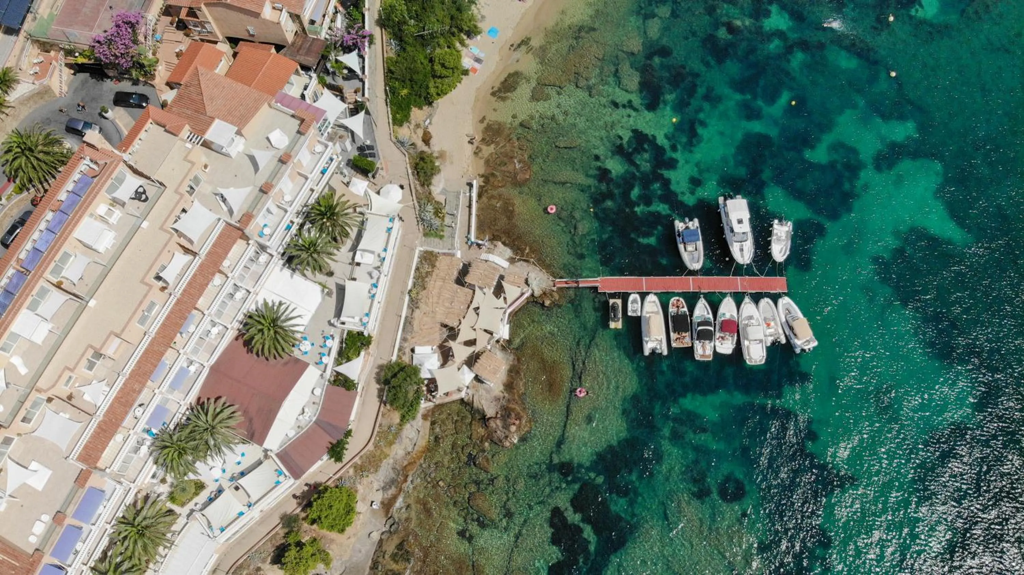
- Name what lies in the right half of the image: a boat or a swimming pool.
boat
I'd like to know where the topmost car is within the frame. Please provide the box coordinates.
[110,90,152,110]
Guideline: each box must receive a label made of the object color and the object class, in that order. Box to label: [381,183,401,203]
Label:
white umbrella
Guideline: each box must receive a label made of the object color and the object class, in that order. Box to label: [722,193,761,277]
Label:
white boat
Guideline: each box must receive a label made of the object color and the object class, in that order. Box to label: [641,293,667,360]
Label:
white boat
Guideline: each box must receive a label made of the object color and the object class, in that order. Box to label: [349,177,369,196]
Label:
white umbrella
